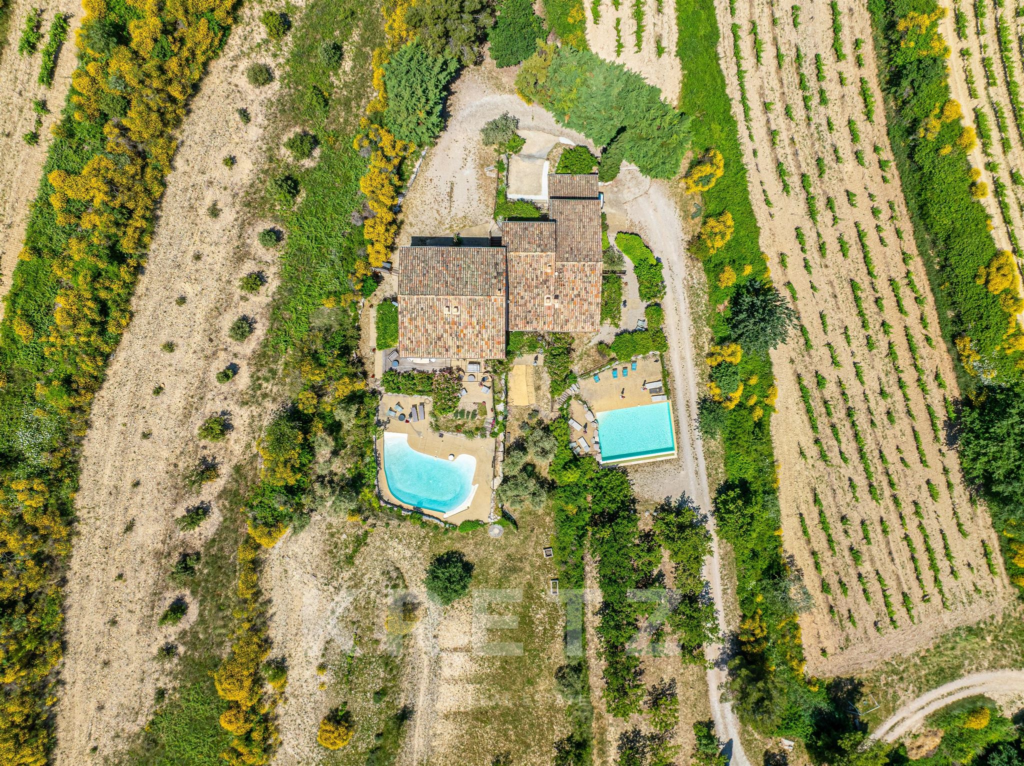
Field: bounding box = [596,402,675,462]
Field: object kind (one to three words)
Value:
swimming pool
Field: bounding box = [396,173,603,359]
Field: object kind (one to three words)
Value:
house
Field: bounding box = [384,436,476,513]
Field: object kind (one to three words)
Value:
swimming pool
